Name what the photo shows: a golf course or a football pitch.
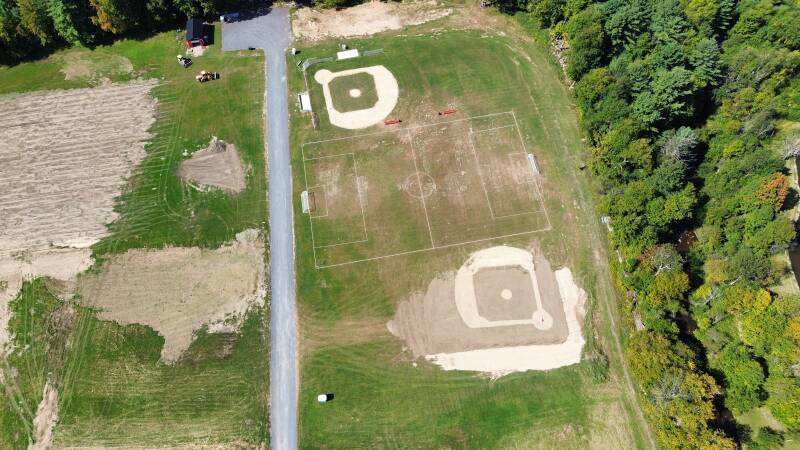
football pitch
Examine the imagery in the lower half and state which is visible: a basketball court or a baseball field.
baseball field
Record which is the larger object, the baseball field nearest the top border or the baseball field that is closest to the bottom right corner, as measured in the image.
the baseball field that is closest to the bottom right corner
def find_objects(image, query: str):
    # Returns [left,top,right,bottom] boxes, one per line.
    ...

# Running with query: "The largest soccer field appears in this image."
[299,109,555,271]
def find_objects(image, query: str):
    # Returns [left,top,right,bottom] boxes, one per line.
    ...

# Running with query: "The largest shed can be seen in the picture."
[184,18,202,49]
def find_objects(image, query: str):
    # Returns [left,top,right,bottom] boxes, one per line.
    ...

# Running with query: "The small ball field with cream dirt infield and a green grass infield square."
[313,66,398,128]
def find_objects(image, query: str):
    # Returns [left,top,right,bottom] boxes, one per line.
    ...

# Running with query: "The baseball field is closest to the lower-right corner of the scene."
[388,246,588,376]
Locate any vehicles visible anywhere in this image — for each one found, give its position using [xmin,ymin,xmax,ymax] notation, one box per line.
[177,55,190,66]
[221,12,240,22]
[196,71,218,80]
